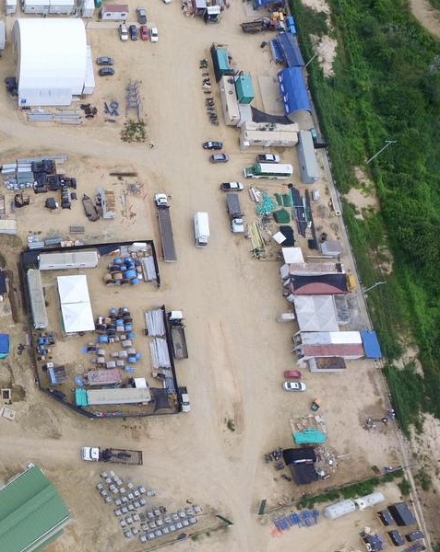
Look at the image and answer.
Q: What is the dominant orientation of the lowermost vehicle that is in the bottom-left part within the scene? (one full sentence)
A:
The lowermost vehicle that is in the bottom-left part runs from left to right in the image.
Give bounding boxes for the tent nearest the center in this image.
[279,247,304,268]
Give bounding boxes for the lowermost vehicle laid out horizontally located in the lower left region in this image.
[82,445,143,465]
